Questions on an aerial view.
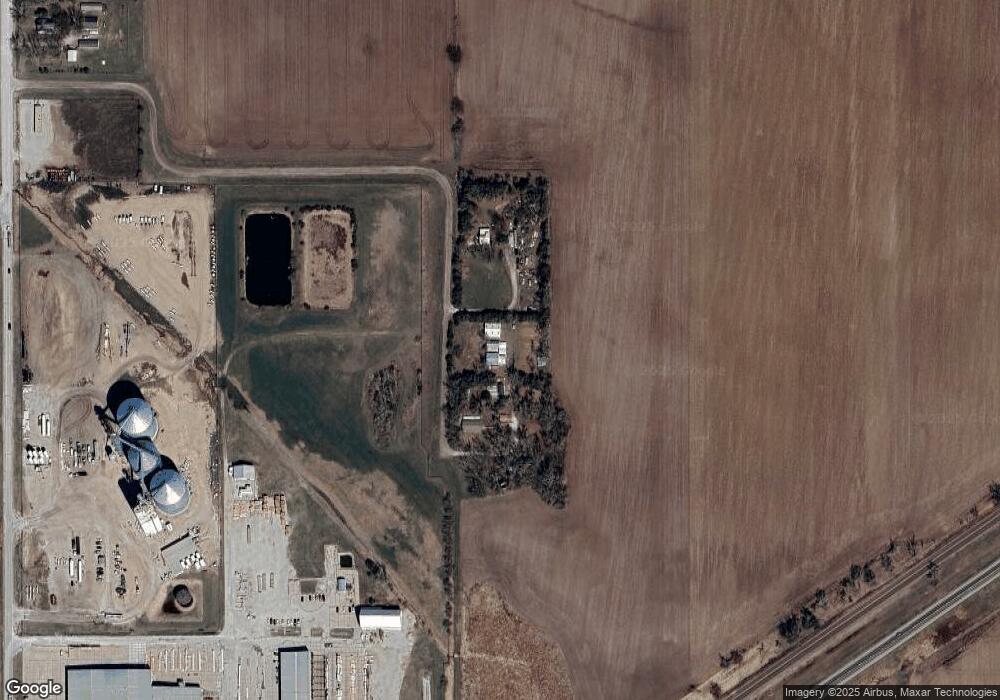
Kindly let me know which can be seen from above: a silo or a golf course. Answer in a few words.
silo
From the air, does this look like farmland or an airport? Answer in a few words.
farmland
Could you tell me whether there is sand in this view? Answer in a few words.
No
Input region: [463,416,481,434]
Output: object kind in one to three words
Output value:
barn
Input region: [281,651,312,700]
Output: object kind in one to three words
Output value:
shed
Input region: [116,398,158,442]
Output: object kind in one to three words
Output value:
silo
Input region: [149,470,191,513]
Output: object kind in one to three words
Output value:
silo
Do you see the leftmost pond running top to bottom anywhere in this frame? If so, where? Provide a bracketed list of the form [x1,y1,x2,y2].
[246,214,291,306]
